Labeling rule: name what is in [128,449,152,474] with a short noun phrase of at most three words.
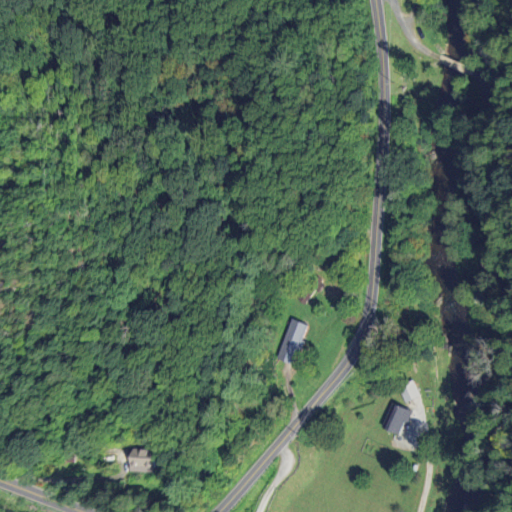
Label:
house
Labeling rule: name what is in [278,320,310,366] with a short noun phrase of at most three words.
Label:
house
